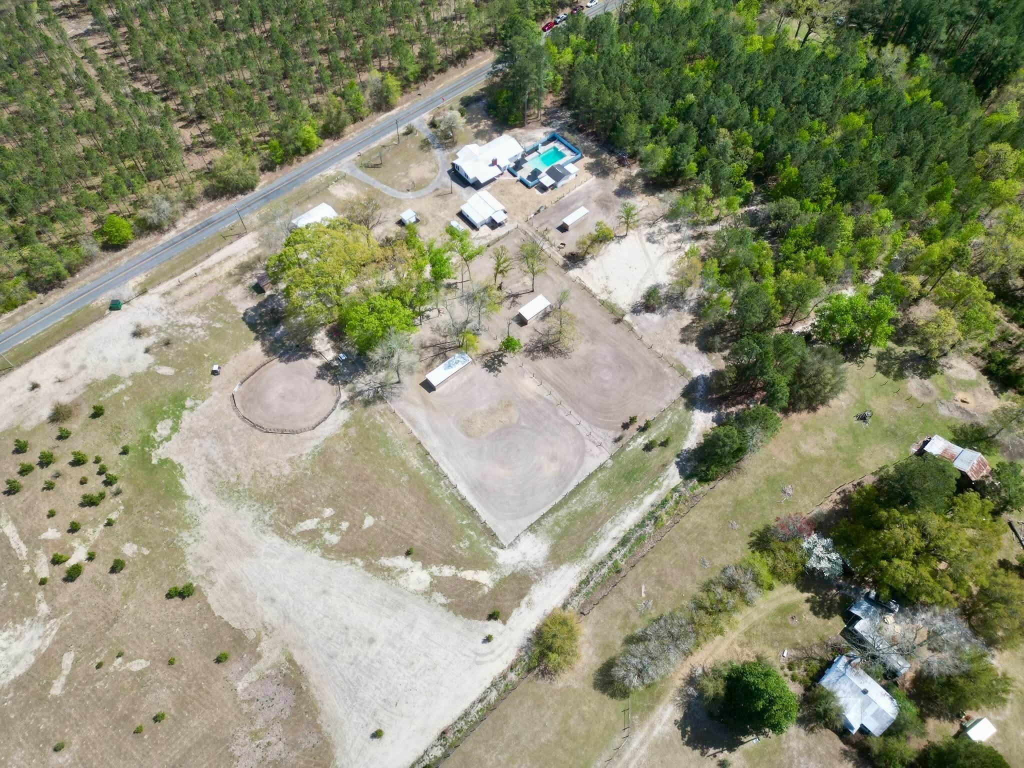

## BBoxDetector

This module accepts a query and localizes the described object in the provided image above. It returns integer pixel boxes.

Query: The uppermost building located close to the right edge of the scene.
[921,434,990,484]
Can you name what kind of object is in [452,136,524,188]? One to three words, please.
house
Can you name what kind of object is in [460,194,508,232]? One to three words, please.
house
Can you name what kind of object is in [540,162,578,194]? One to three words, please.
shed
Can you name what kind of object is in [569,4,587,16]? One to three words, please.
vehicle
